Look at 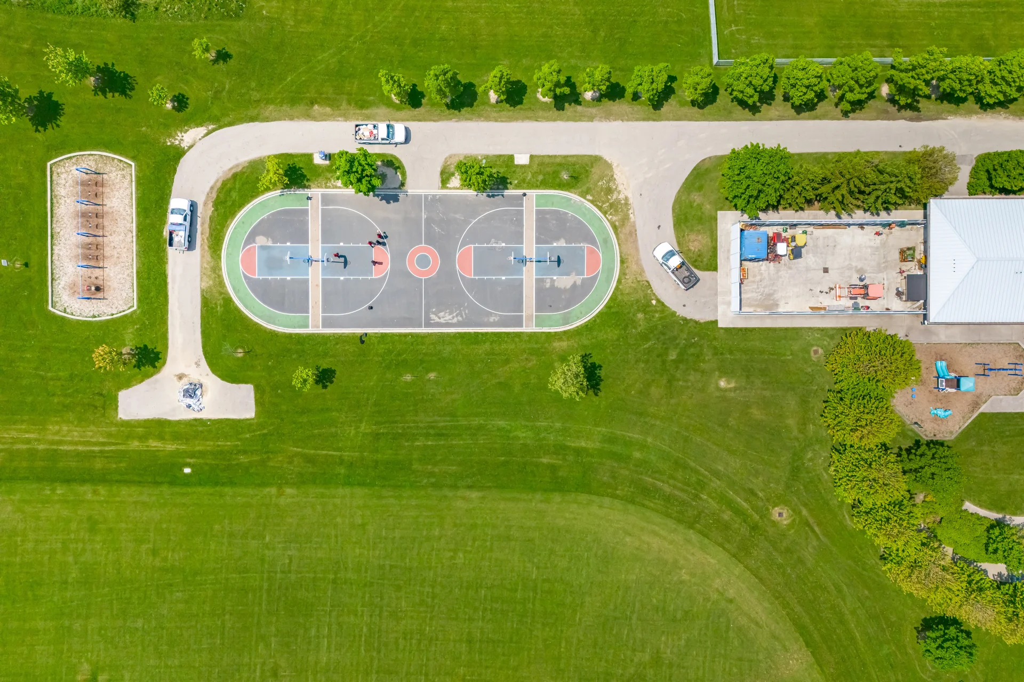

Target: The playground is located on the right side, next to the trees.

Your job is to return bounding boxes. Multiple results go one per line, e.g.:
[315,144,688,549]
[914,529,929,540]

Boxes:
[890,342,1024,439]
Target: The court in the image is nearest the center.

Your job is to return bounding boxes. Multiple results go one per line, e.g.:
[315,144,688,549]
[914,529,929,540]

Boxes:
[221,189,620,332]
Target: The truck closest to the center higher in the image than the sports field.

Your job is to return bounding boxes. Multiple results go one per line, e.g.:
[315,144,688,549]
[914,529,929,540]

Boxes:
[653,242,699,291]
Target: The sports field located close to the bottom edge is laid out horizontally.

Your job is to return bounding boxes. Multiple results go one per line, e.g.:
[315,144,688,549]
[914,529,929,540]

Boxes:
[0,483,821,682]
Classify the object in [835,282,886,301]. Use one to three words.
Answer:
work vehicle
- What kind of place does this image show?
sports ground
